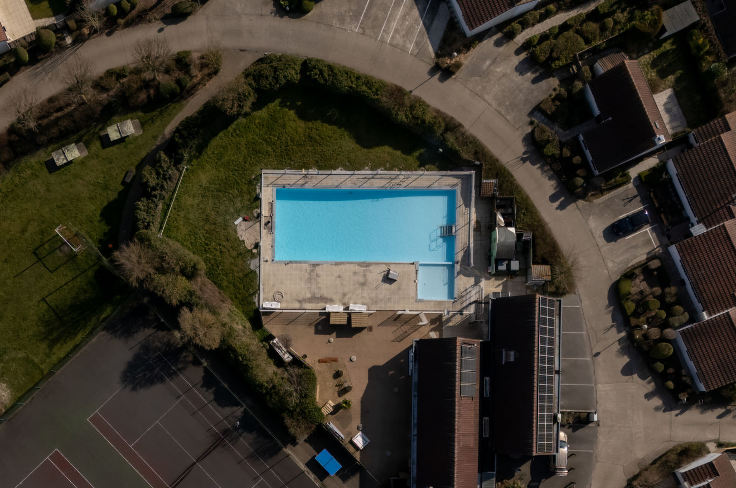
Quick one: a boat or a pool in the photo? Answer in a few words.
pool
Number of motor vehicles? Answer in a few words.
two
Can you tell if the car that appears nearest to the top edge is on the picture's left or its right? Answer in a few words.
right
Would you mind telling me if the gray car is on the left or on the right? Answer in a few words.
right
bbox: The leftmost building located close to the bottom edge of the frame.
[406,337,482,488]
